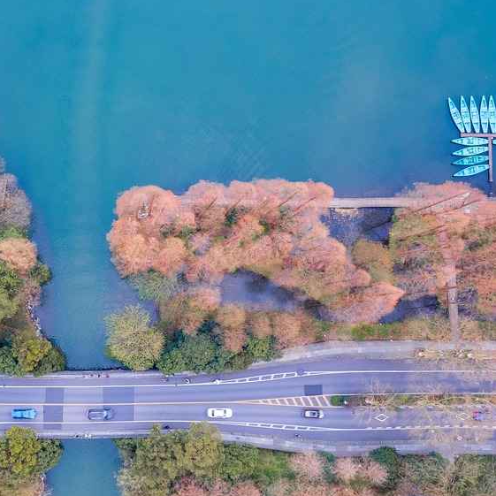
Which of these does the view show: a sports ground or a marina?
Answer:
marina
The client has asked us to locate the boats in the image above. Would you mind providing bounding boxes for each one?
[452,155,488,165]
[448,97,466,133]
[489,94,496,133]
[451,137,488,145]
[482,95,489,133]
[461,95,472,133]
[453,146,488,155]
[472,95,482,133]
[453,163,488,176]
